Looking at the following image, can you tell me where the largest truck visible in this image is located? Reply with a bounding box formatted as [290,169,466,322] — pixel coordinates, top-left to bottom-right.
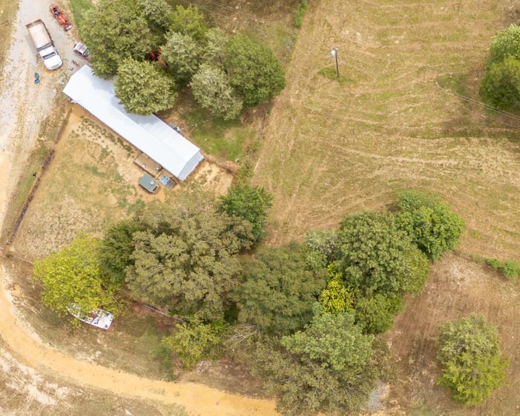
[24,17,64,75]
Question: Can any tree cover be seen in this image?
Yes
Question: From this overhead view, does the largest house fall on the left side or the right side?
left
